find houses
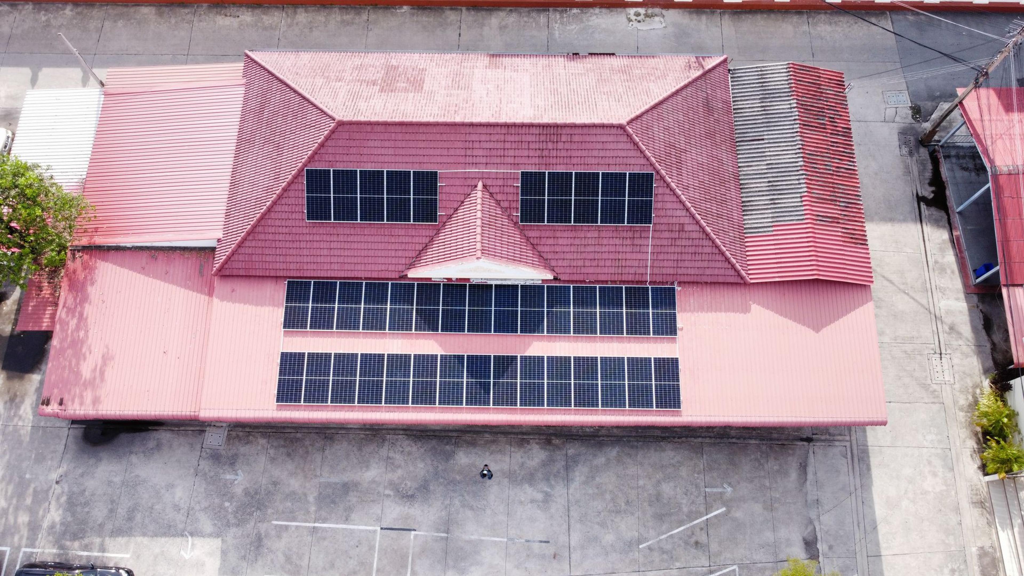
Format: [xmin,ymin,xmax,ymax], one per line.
[209,46,753,295]
[936,88,1024,372]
